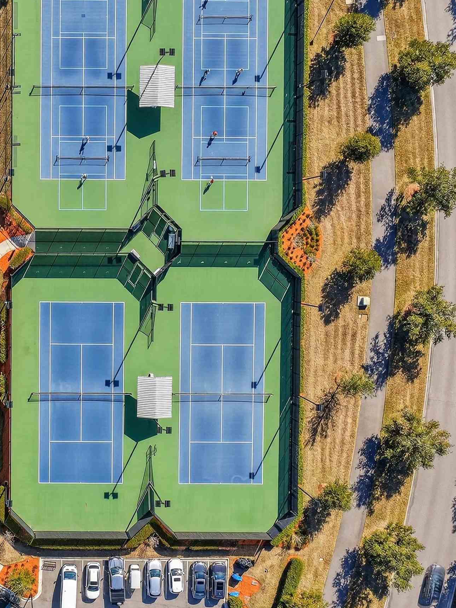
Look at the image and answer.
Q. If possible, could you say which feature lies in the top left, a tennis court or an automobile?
tennis court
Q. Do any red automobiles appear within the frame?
No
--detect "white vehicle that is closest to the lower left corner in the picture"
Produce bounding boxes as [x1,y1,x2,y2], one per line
[58,559,78,608]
